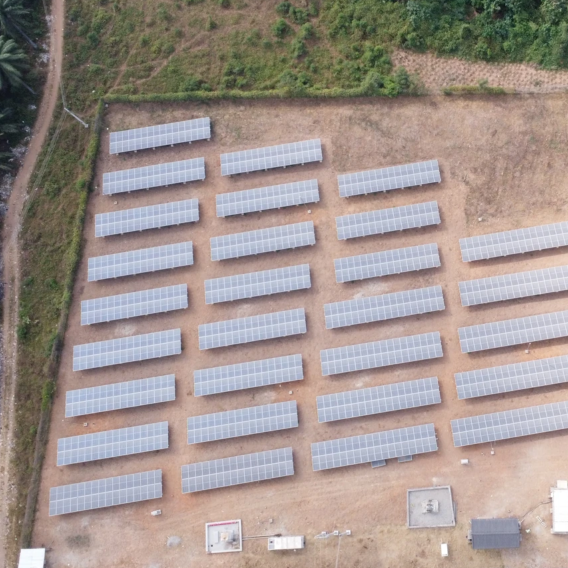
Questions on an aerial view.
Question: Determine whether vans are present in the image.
No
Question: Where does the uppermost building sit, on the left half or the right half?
right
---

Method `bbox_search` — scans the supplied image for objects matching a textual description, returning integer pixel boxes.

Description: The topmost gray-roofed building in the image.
[466,510,521,550]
